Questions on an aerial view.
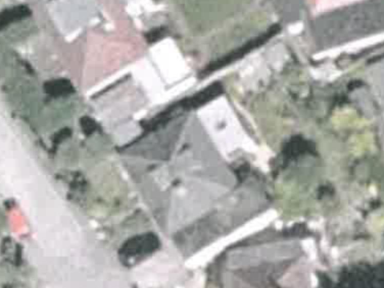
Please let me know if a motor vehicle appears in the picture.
Yes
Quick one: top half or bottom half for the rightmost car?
bottom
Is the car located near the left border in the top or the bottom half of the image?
bottom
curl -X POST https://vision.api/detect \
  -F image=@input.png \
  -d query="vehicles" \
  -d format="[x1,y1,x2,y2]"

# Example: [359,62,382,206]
[115,234,166,267]
[3,199,34,246]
